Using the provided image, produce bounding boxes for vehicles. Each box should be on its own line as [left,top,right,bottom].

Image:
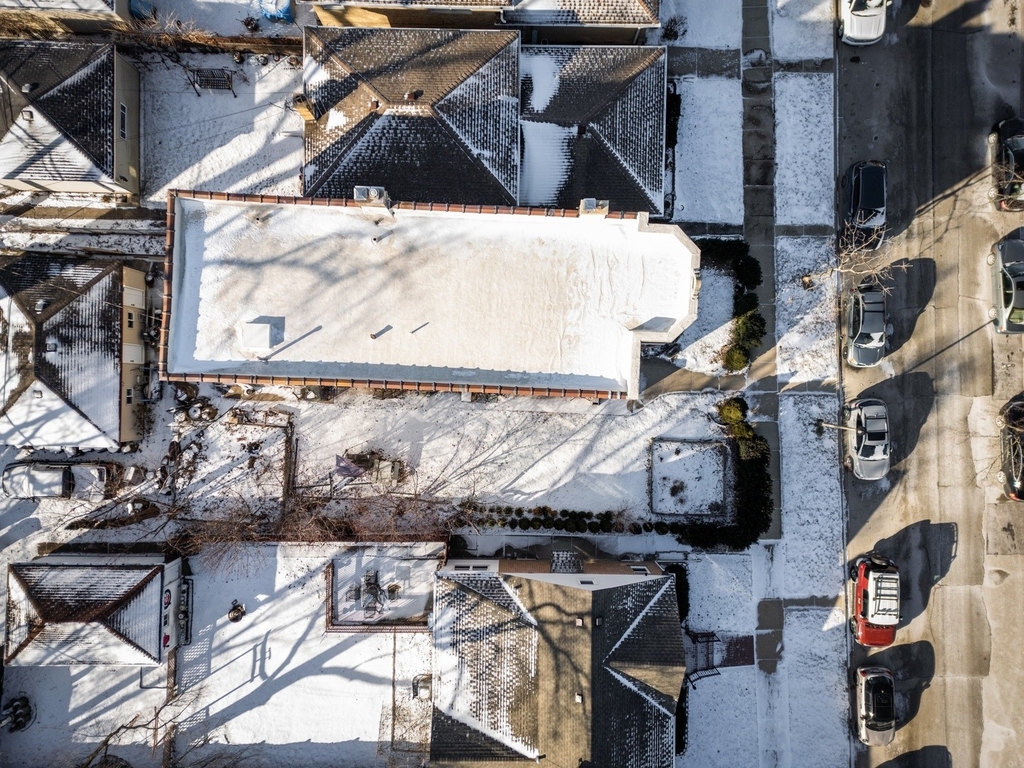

[7,460,116,505]
[993,235,1024,330]
[992,122,1024,209]
[840,0,890,50]
[846,397,892,481]
[846,284,892,367]
[854,664,901,746]
[999,405,1024,498]
[845,162,892,251]
[849,557,900,646]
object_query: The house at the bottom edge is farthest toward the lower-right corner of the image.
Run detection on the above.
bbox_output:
[430,543,686,768]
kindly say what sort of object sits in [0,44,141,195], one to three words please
building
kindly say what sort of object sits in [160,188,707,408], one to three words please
building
